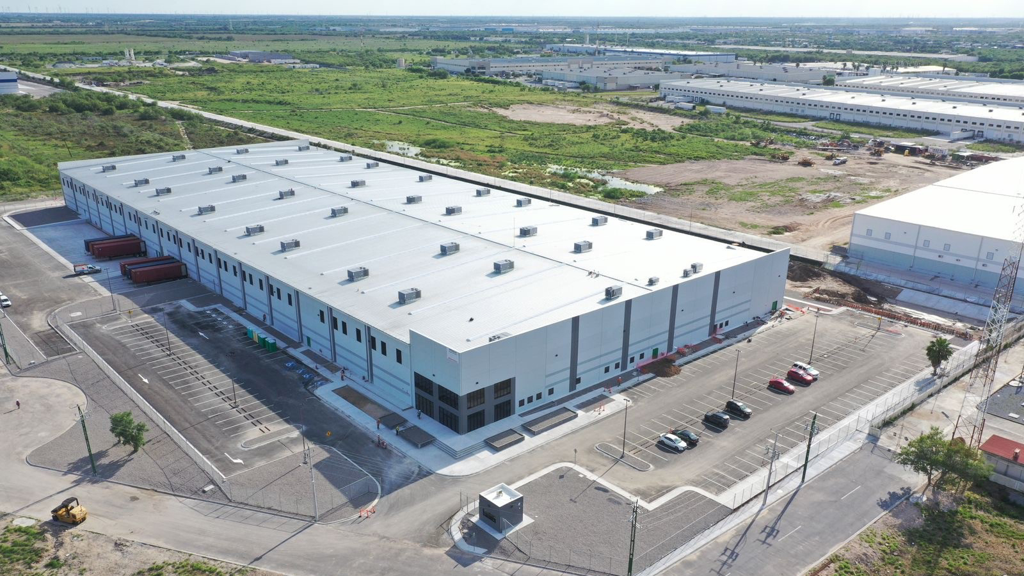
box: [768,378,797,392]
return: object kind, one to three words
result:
car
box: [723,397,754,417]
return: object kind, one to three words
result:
car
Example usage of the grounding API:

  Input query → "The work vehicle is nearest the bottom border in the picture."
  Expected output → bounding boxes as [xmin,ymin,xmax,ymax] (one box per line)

[47,495,88,524]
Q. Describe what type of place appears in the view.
industrial area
